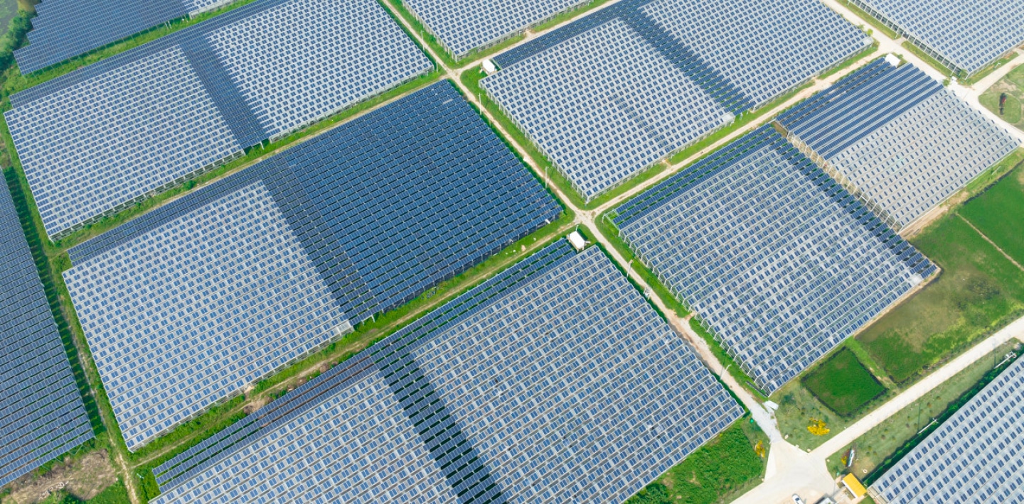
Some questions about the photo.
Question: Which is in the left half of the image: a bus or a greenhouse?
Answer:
greenhouse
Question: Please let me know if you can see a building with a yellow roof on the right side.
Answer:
Yes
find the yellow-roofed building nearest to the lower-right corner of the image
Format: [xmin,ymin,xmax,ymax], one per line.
[836,473,866,503]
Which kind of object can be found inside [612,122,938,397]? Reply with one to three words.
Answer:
greenhouse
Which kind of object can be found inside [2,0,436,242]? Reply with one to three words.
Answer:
greenhouse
